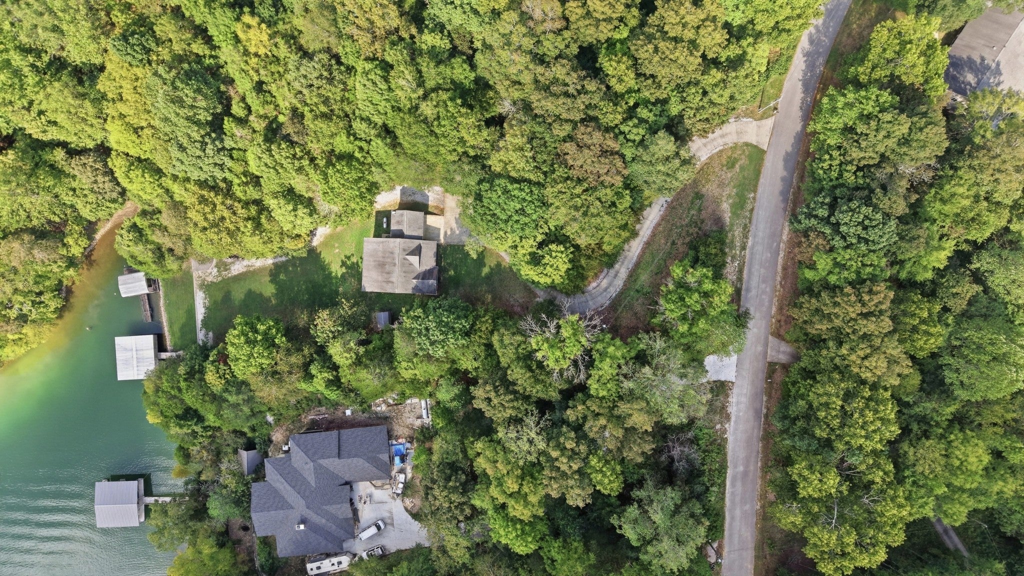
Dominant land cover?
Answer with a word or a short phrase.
trees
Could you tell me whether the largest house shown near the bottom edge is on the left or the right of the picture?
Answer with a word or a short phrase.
left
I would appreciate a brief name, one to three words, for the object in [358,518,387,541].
vehicle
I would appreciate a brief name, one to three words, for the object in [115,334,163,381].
building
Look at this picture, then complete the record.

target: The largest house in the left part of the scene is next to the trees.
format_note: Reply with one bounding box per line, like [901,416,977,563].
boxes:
[248,425,393,557]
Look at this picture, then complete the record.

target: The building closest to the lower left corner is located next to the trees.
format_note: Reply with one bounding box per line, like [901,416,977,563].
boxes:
[95,477,146,527]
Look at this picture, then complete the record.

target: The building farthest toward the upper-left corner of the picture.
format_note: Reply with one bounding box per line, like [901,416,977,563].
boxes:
[117,266,162,298]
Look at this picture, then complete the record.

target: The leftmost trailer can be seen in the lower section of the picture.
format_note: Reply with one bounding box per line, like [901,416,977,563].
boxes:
[305,551,357,576]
